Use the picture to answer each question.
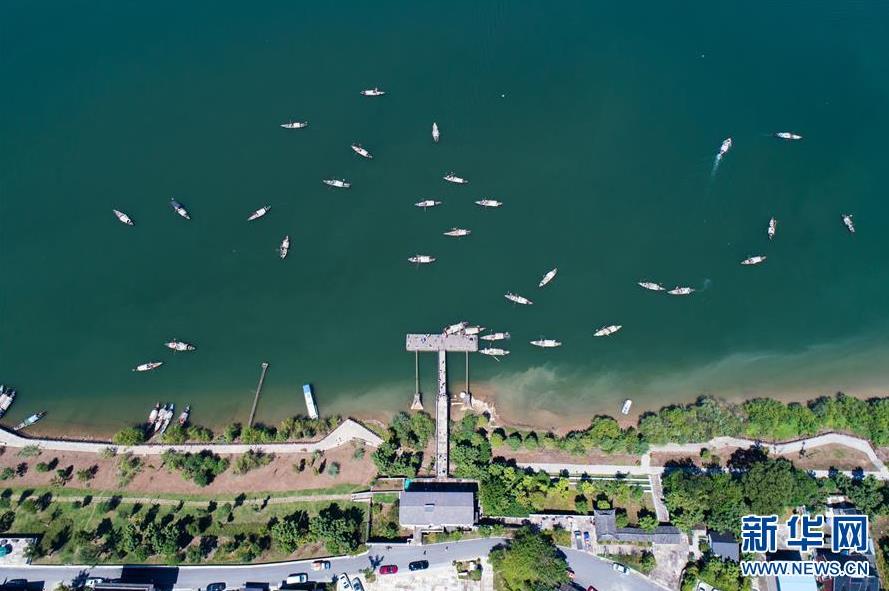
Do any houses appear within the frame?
Yes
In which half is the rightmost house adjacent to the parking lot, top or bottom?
bottom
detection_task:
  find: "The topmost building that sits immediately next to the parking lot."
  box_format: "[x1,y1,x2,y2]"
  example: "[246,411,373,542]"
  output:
[398,490,474,528]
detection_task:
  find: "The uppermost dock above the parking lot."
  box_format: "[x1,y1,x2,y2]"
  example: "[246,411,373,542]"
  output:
[406,334,477,351]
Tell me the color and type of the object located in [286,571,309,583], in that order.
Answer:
white vehicle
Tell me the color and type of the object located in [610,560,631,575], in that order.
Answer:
white car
